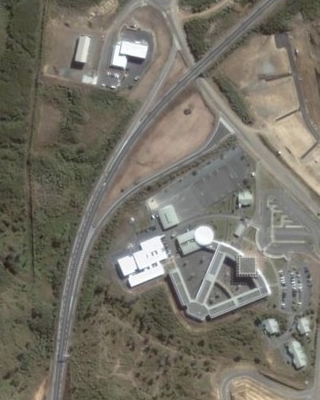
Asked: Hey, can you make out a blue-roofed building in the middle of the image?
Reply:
No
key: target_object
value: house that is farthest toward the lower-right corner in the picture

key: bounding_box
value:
[286,339,309,370]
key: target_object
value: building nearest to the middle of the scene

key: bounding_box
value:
[158,205,180,230]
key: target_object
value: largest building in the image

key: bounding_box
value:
[168,238,272,320]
